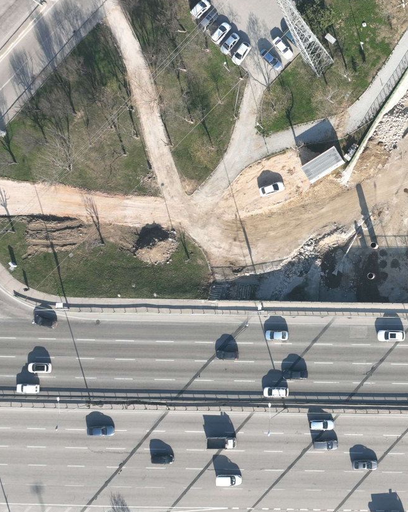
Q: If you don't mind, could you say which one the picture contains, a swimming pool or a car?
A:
car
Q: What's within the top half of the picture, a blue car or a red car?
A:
blue car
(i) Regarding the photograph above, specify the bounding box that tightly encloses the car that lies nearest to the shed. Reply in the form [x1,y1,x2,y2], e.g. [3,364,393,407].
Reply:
[258,180,284,196]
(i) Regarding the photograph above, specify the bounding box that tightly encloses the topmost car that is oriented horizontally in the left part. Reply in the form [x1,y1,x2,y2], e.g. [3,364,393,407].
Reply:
[33,310,60,326]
